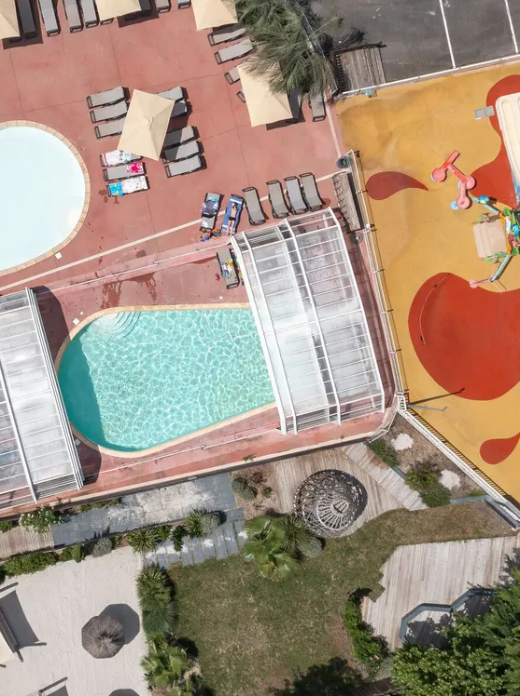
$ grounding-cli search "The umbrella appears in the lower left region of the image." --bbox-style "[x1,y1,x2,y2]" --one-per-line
[82,615,127,659]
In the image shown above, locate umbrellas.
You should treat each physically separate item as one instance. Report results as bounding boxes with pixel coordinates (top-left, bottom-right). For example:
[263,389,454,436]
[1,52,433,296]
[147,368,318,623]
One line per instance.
[191,0,238,31]
[82,615,127,659]
[0,0,21,39]
[117,88,176,161]
[98,0,145,22]
[237,57,292,128]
